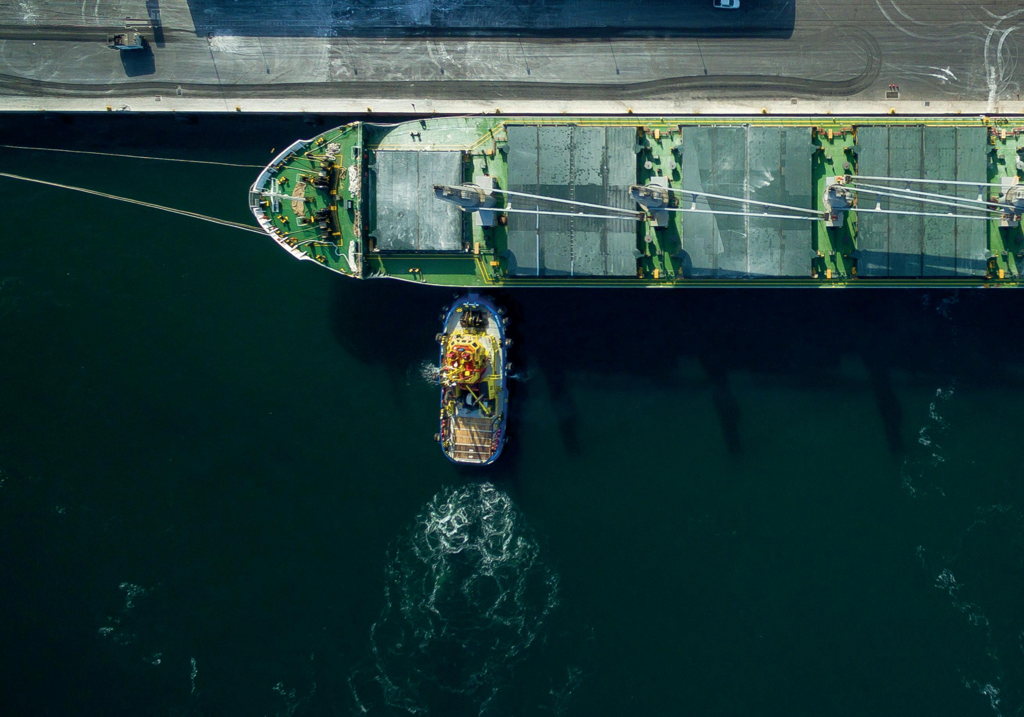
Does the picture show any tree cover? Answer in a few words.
No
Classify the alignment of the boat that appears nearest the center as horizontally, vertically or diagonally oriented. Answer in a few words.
vertically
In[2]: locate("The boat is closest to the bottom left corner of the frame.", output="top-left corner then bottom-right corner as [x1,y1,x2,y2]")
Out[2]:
[436,292,512,465]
